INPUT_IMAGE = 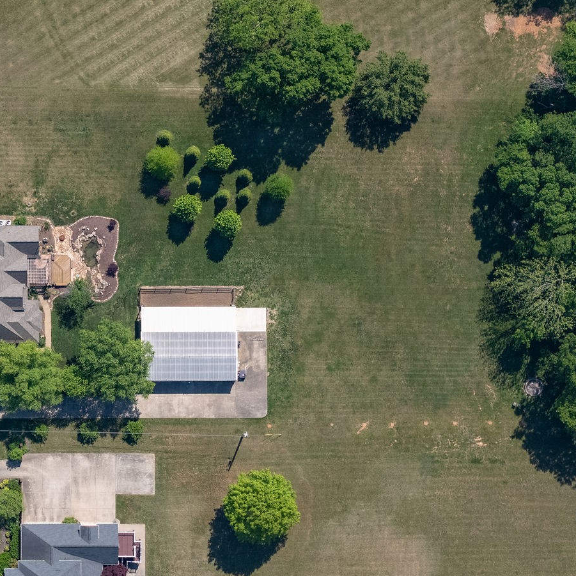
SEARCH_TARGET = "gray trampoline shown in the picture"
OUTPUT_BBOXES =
[523,377,544,396]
